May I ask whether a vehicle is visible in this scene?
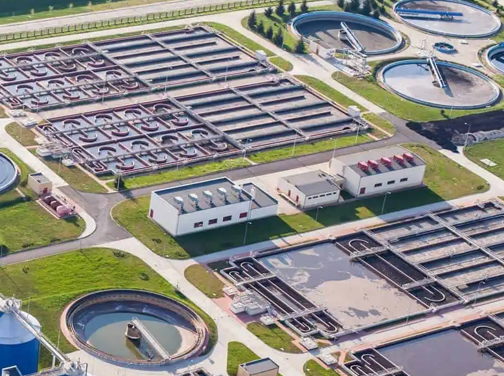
No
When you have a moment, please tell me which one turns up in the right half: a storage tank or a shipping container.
storage tank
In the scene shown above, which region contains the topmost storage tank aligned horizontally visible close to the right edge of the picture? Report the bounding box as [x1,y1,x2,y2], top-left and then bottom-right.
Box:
[392,0,502,39]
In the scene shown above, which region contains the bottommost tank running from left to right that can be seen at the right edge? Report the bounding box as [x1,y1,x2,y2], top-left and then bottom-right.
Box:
[380,55,502,111]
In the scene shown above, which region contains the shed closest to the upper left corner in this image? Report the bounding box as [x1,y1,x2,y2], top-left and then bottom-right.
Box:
[28,172,52,195]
